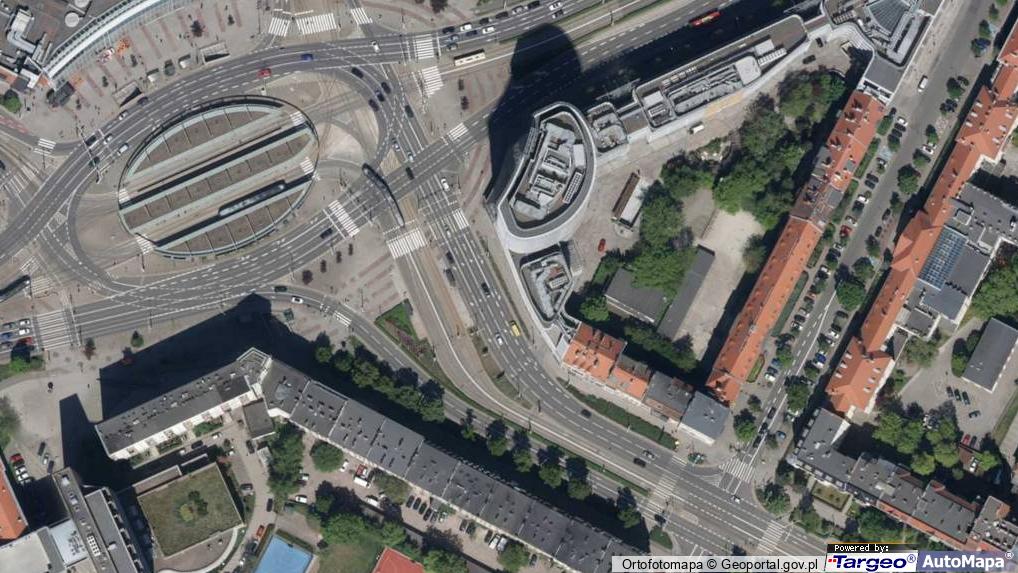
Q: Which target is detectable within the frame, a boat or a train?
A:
train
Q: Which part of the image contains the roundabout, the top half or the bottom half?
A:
top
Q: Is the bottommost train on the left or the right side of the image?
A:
left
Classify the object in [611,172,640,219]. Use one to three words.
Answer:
shed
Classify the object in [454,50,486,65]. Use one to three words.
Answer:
vehicle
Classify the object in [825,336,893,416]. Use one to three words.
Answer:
house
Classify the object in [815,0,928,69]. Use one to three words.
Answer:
building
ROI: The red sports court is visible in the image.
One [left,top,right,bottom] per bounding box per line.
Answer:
[375,547,425,573]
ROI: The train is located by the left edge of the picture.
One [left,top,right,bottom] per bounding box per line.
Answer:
[0,277,31,300]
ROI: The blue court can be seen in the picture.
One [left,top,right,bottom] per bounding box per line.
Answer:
[256,535,313,573]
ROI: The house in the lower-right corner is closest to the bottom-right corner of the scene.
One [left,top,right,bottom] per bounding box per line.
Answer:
[963,497,1018,569]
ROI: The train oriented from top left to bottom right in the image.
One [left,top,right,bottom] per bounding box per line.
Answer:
[363,164,406,227]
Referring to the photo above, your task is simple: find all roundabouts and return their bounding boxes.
[0,32,437,358]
